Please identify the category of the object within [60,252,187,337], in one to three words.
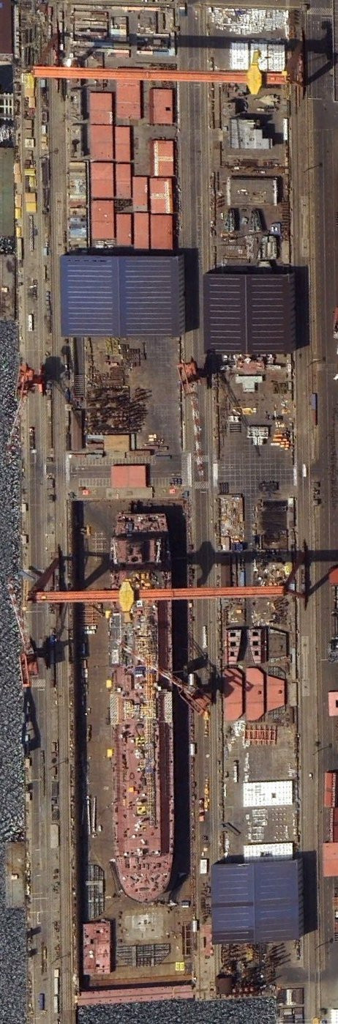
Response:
hangar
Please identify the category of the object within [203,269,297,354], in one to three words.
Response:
hangar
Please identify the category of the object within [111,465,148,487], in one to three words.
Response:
building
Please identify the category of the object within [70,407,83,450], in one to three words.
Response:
building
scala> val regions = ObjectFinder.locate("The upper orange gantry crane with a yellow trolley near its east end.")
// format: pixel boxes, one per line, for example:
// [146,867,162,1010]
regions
[29,21,306,100]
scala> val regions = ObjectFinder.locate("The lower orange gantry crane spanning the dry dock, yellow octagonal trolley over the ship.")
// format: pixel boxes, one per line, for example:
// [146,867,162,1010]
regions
[27,541,308,614]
